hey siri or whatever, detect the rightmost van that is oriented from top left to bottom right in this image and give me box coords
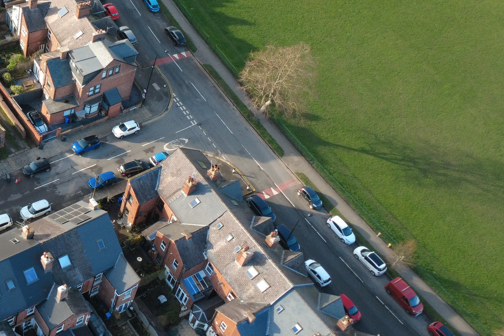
[382,274,424,318]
